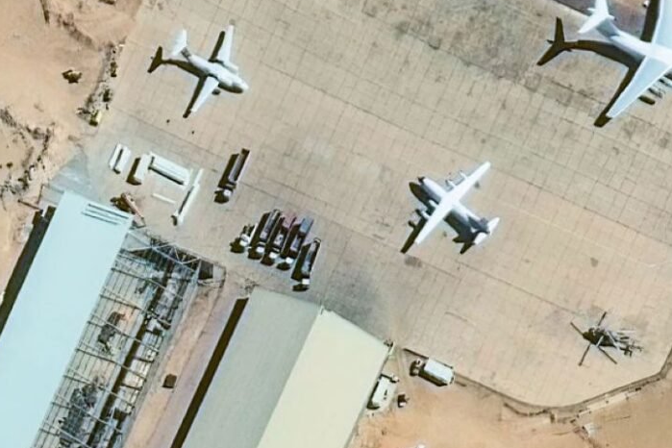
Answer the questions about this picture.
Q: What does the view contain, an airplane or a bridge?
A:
airplane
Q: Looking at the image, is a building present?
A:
Yes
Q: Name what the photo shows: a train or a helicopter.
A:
helicopter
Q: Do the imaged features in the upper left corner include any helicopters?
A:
No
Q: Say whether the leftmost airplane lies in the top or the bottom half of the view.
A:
top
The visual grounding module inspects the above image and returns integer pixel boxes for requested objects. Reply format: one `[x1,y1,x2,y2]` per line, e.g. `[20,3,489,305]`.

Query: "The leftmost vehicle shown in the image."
[64,66,82,83]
